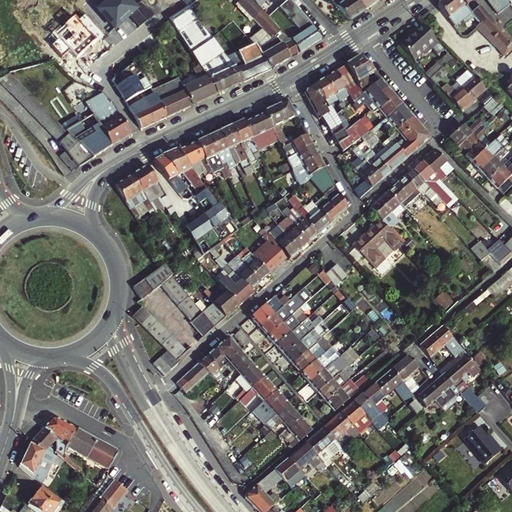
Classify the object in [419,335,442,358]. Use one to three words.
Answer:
house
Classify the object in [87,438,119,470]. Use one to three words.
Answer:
house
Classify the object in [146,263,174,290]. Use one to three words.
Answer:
building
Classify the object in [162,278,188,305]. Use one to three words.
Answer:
building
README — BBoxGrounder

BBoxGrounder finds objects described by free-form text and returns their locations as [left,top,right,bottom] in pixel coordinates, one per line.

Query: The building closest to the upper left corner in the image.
[51,14,106,72]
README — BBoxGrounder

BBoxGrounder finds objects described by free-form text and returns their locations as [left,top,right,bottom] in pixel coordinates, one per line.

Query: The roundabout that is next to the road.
[0,204,132,367]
